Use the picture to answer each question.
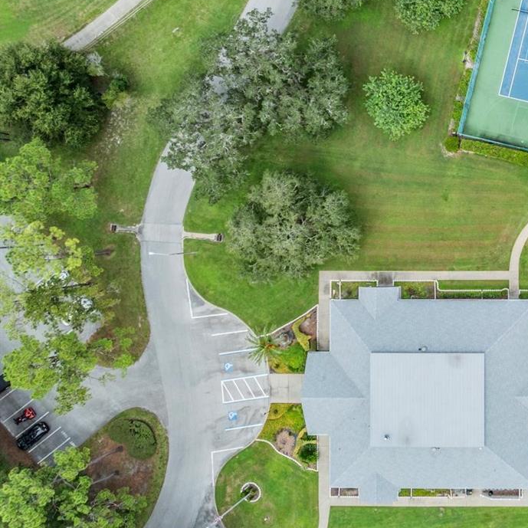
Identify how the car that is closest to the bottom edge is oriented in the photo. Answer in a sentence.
Seen from above, the car that is closest to the bottom edge lies diagonally.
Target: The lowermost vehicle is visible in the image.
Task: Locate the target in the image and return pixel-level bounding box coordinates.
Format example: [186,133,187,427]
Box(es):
[11,423,47,454]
